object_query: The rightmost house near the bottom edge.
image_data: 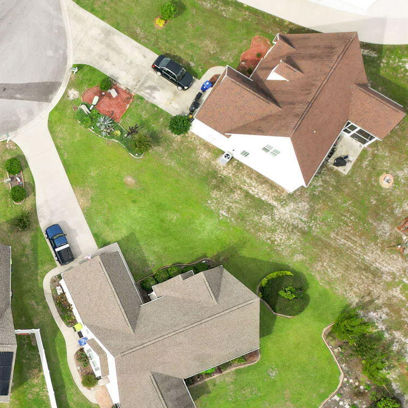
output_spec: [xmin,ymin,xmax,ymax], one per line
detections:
[58,249,260,408]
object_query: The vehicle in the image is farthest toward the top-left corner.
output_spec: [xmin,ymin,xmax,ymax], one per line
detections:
[152,51,197,89]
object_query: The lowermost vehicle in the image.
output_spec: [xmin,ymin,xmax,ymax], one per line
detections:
[46,221,79,268]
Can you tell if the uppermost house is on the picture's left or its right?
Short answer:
right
